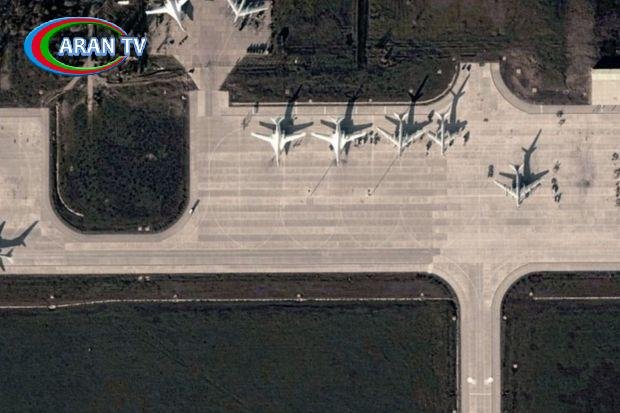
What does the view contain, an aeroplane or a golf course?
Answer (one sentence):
It is an aeroplane that can be seen here.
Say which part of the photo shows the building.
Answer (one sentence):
Look in the top right portion of the view to spot the building.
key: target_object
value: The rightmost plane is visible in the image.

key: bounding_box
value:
[493,161,542,206]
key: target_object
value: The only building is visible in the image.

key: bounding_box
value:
[592,68,620,105]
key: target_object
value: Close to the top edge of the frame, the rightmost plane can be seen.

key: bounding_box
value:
[226,0,267,22]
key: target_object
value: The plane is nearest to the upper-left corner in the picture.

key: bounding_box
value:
[143,0,185,31]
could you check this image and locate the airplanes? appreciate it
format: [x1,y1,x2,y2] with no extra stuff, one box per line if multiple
[493,161,542,206]
[226,0,267,22]
[143,0,185,31]
[0,249,13,263]
[427,111,459,158]
[310,116,366,165]
[376,112,425,157]
[249,116,305,165]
